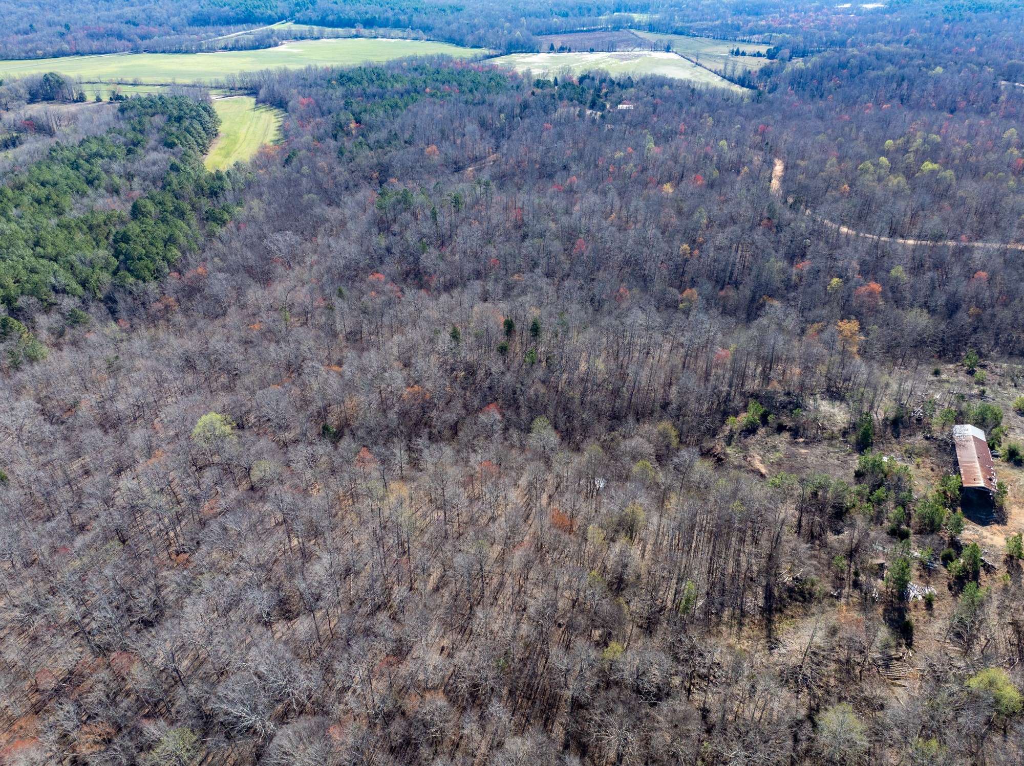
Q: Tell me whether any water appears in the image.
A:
No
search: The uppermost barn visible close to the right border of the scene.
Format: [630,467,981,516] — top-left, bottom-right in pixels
[946,423,1002,509]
